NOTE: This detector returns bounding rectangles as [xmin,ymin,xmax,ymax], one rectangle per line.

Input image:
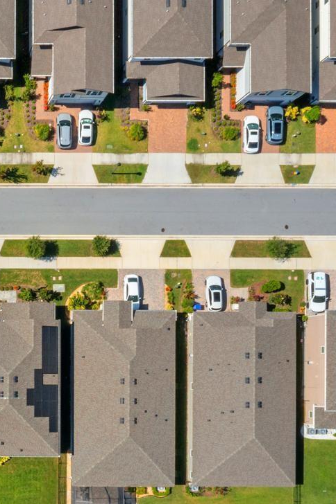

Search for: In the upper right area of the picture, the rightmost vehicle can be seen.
[264,107,285,145]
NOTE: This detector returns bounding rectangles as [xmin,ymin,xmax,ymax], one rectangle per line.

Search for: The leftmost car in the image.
[56,111,75,149]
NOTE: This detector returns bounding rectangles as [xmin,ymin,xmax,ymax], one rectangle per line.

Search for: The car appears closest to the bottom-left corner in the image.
[122,274,141,310]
